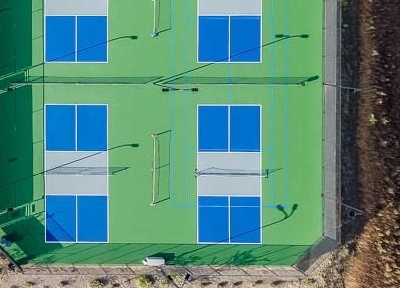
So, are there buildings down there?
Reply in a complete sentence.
No, the scene contains no building.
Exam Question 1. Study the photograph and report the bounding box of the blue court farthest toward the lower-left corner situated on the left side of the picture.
[46,105,108,243]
